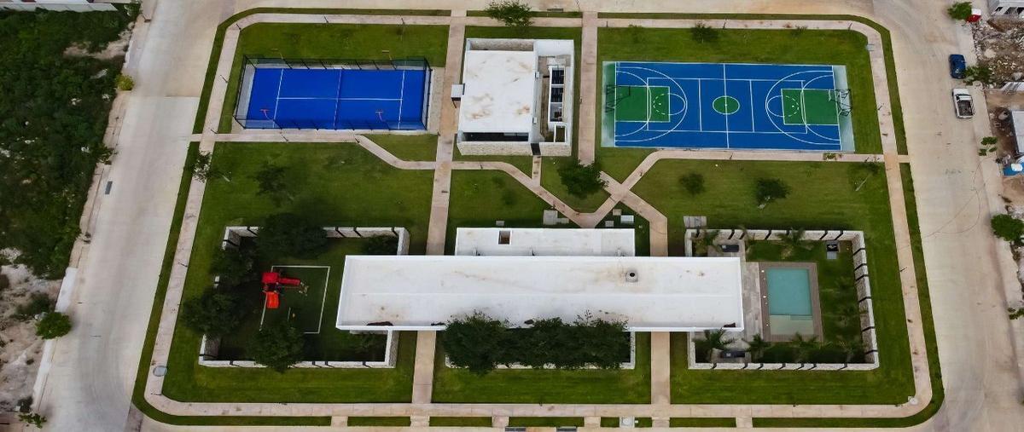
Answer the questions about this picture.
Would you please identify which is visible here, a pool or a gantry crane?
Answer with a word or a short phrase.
pool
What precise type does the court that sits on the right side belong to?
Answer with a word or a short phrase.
basketball court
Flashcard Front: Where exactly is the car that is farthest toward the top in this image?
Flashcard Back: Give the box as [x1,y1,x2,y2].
[947,53,966,79]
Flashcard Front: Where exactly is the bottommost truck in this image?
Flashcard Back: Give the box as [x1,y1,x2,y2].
[954,86,975,119]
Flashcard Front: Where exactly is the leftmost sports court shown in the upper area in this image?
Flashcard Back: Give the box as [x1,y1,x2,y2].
[230,56,446,137]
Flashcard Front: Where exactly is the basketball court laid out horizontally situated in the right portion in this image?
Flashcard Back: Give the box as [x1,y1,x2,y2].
[601,61,855,150]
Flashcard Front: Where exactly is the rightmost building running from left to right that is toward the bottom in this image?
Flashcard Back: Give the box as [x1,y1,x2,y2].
[336,226,745,340]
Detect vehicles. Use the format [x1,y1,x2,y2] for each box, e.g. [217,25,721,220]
[947,53,966,79]
[954,86,975,119]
